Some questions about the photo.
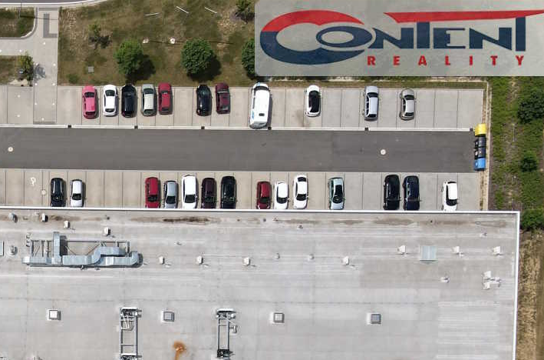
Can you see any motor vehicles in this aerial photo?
Yes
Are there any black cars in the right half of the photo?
Yes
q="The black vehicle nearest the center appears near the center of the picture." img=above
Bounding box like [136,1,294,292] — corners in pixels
[219,176,237,209]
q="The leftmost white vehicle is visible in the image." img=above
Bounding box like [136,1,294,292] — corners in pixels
[69,180,84,208]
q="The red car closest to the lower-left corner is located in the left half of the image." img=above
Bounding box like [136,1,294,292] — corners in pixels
[144,178,159,209]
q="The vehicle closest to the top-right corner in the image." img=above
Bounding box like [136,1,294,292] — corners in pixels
[397,90,416,122]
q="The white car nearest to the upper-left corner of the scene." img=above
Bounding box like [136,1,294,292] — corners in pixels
[102,86,117,118]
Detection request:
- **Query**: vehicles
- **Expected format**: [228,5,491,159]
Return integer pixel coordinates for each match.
[219,176,237,209]
[254,182,271,210]
[144,178,159,209]
[50,178,66,208]
[195,86,212,118]
[157,84,173,116]
[81,86,97,120]
[291,175,308,210]
[272,182,290,210]
[121,86,137,119]
[397,90,416,122]
[248,83,272,131]
[102,86,117,118]
[381,175,400,211]
[200,179,217,209]
[400,175,421,211]
[181,175,198,209]
[214,84,230,116]
[326,178,344,210]
[362,88,380,122]
[303,86,321,119]
[69,180,84,208]
[163,181,179,209]
[140,85,156,118]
